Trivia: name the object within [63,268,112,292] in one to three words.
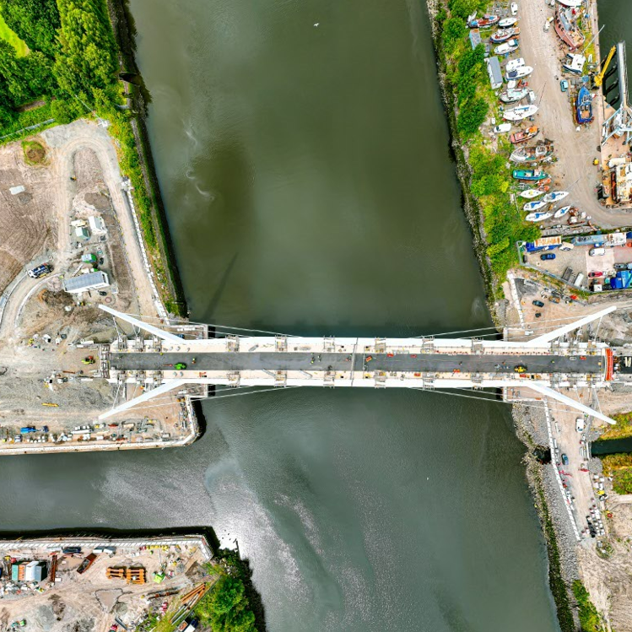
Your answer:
building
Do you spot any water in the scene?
Yes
